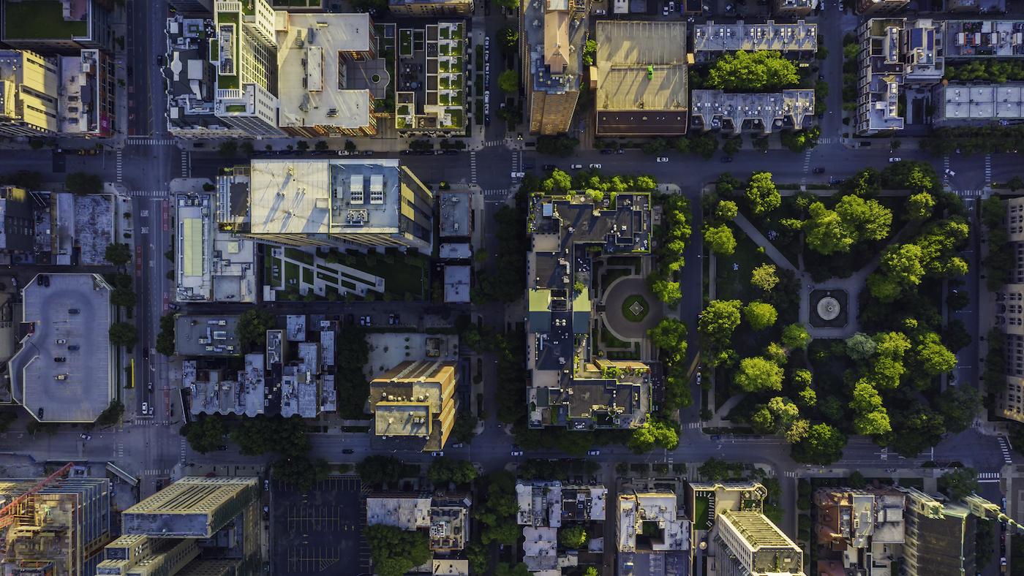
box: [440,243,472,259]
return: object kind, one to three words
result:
building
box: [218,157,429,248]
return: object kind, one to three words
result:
building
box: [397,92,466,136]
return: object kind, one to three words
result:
house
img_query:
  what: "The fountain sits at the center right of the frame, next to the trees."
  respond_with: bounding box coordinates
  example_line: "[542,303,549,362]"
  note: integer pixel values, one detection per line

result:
[809,289,848,328]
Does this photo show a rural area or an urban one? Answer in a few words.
urban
